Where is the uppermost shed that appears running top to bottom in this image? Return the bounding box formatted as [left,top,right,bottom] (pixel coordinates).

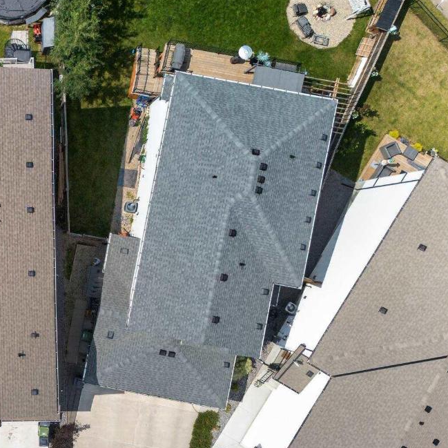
[42,16,55,54]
